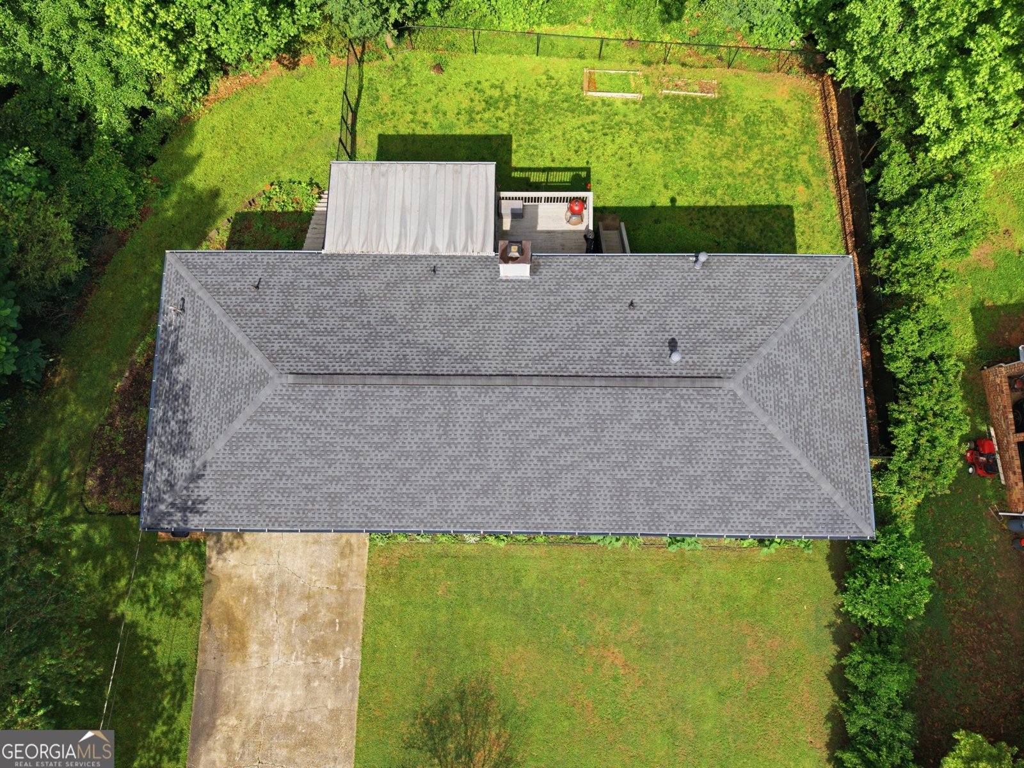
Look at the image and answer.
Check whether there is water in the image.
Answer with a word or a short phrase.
No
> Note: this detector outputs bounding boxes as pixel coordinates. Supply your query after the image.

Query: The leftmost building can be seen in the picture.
[136,160,878,542]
